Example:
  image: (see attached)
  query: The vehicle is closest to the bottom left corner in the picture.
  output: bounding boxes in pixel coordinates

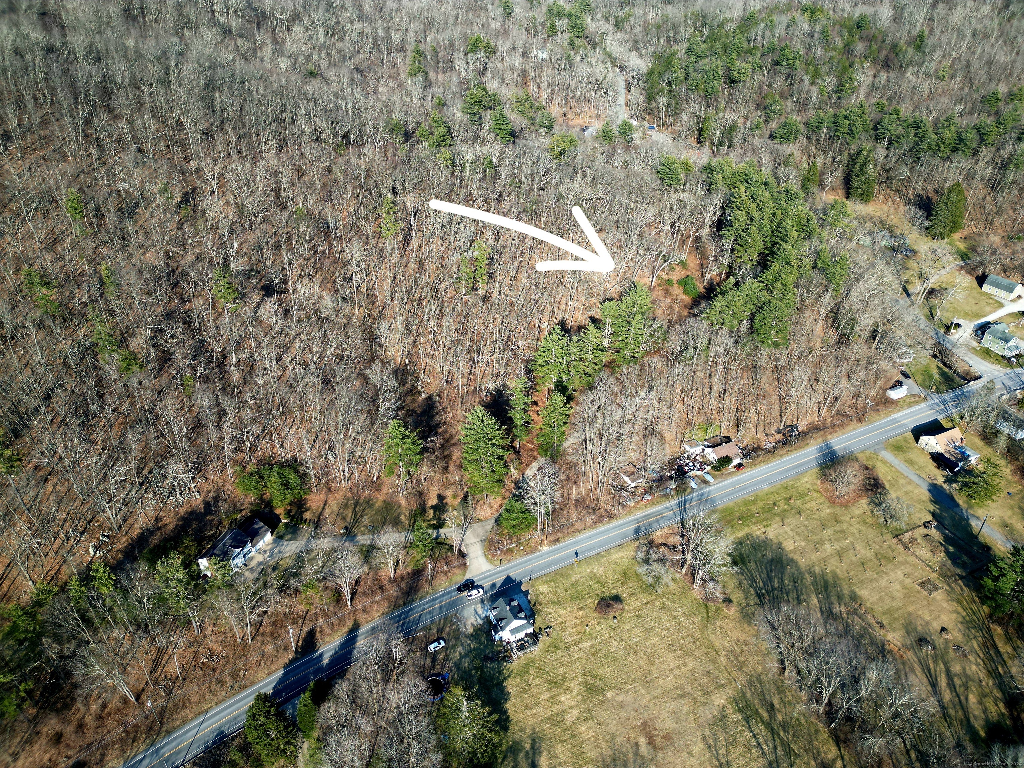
[426,638,446,653]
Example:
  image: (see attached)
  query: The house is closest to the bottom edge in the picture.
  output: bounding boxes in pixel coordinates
[489,595,539,669]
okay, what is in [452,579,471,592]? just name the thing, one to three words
vehicle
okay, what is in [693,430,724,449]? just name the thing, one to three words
shed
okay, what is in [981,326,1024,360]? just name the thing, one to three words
building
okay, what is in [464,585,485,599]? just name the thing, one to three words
vehicle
